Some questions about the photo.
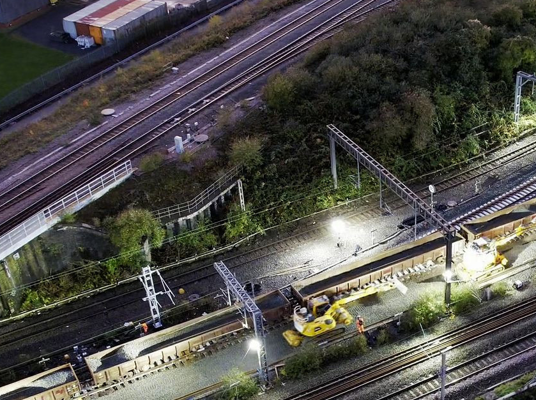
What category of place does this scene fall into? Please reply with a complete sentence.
The picture captures a rail yard.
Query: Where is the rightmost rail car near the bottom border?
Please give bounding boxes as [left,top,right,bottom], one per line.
[82,288,291,388]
